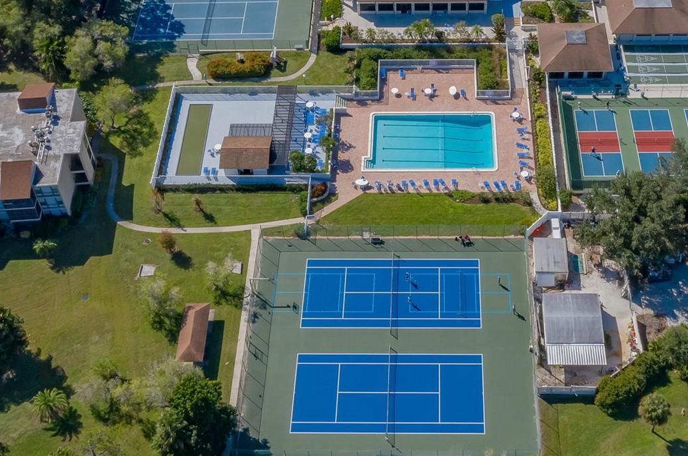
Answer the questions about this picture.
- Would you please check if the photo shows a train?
No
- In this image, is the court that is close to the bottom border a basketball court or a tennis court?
tennis court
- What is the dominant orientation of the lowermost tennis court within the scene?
from left to right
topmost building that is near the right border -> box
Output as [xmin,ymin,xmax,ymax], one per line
[606,0,688,44]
